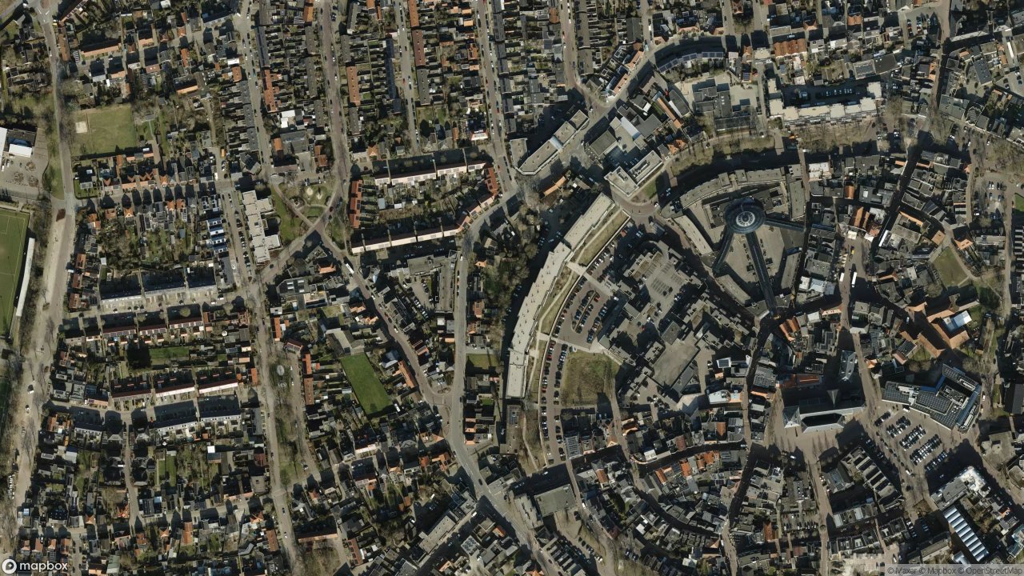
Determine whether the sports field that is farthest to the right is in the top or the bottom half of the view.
top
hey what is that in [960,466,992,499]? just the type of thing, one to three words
building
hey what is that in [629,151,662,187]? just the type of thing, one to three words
building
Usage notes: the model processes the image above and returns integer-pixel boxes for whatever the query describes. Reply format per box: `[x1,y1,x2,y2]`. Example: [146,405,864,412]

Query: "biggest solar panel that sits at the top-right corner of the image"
[853,61,875,79]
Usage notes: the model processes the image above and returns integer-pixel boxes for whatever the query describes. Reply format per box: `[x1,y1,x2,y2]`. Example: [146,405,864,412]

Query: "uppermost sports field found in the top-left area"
[72,104,136,157]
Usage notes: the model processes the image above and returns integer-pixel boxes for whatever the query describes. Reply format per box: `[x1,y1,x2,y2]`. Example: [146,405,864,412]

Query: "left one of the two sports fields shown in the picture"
[0,208,30,334]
